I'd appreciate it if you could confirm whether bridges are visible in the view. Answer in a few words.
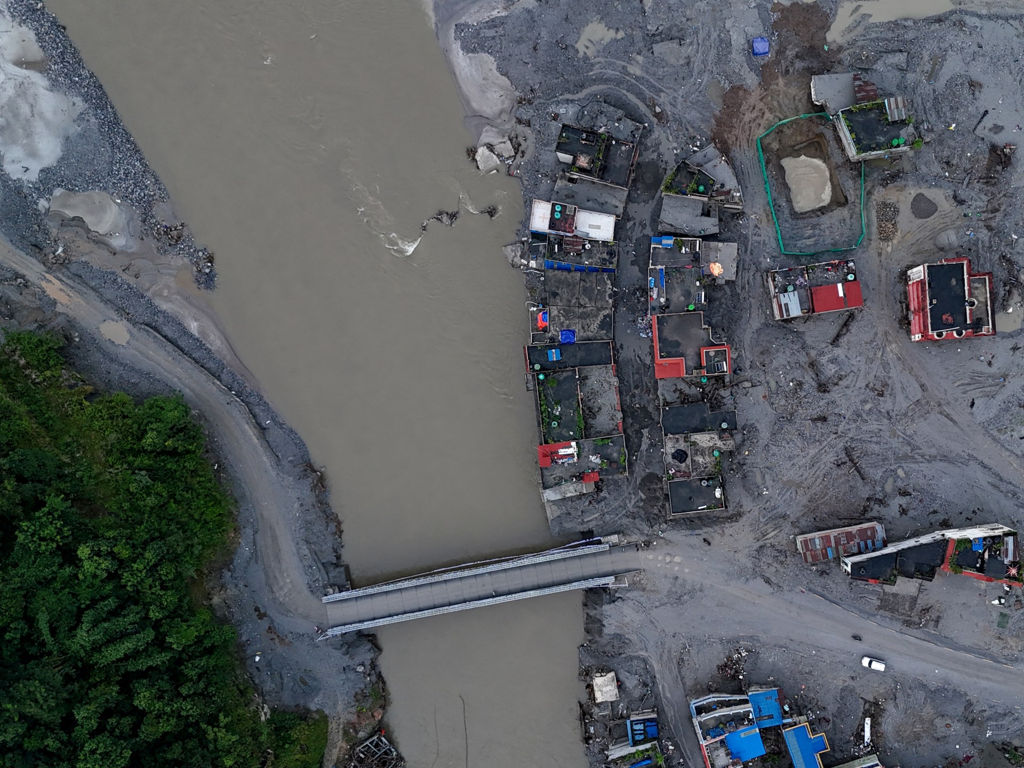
Yes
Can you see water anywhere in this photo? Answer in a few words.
Yes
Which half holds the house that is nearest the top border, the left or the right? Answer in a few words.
right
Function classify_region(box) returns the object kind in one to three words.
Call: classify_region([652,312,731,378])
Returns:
house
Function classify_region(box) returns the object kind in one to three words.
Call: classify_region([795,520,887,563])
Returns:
shed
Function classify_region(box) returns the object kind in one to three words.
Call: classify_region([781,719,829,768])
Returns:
house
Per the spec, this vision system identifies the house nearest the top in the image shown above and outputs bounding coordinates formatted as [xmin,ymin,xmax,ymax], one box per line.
[806,73,878,120]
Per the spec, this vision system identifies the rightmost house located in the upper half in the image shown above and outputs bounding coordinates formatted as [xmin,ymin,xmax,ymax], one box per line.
[907,257,996,342]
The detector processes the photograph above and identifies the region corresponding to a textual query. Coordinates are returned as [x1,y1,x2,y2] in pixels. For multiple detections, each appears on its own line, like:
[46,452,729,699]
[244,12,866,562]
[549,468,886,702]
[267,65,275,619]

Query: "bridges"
[320,540,644,643]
